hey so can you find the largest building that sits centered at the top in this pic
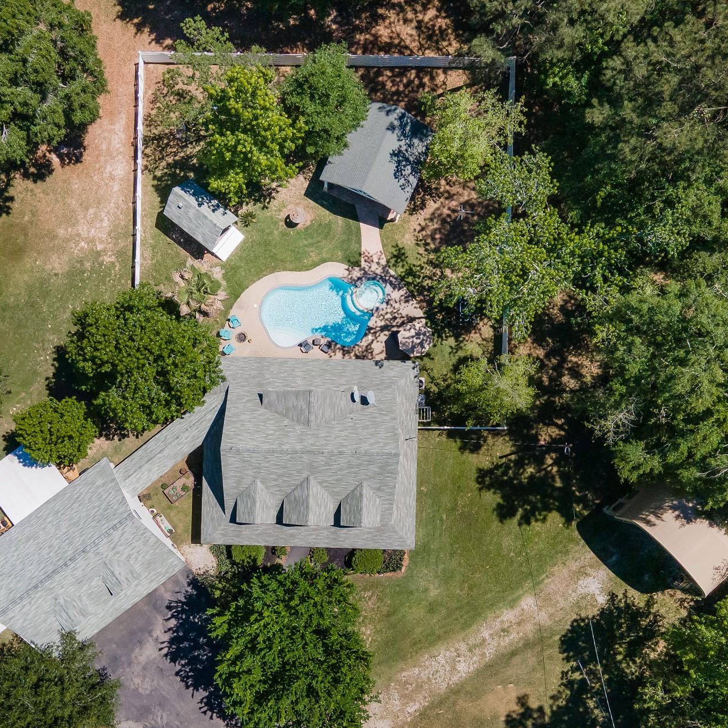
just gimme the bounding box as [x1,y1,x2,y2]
[317,96,434,218]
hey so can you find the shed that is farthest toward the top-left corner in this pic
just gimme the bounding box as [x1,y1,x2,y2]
[163,180,248,265]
